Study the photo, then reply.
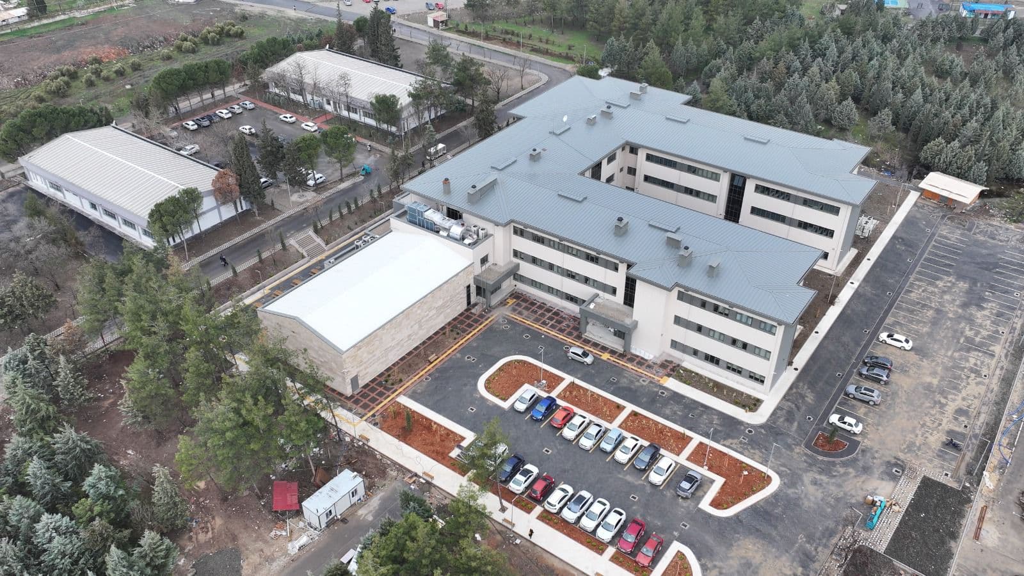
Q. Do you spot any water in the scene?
No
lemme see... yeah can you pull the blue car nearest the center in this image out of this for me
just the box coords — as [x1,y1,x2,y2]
[529,396,558,422]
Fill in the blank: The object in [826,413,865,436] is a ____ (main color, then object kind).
white car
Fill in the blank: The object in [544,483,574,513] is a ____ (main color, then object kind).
white car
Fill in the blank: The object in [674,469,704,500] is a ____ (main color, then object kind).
gray car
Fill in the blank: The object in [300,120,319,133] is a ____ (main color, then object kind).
white vehicle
